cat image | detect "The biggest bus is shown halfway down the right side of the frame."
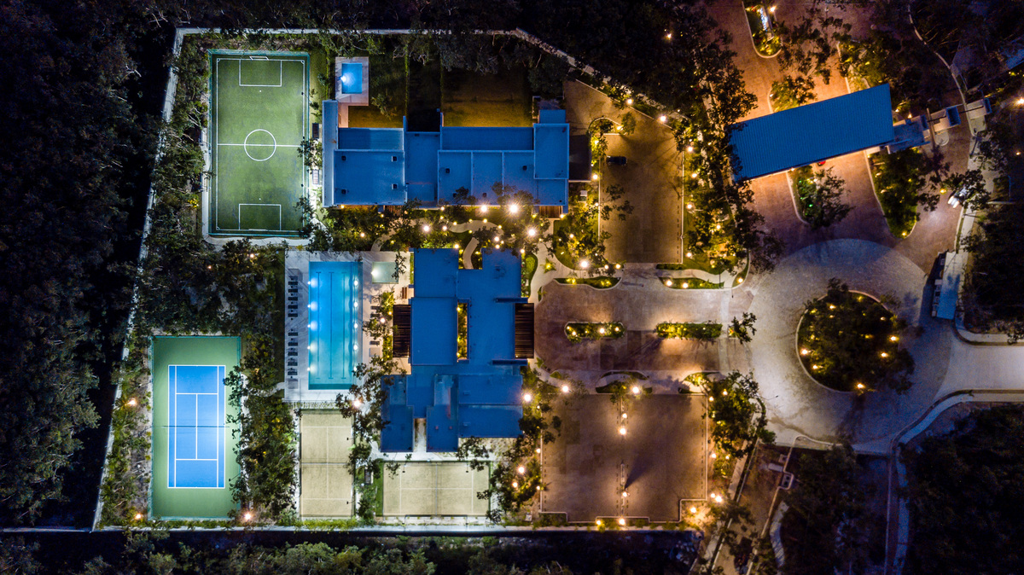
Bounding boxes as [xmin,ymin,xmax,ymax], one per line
[932,251,964,320]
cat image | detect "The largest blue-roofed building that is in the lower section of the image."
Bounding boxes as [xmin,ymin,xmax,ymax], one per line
[381,248,534,452]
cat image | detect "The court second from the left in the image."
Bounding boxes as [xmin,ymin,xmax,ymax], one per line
[301,413,353,517]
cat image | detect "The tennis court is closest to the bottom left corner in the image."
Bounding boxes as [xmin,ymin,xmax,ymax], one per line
[153,337,236,517]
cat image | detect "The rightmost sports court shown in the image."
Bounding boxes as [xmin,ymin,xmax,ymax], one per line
[384,463,489,515]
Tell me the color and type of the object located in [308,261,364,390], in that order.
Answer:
blue swimming pool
